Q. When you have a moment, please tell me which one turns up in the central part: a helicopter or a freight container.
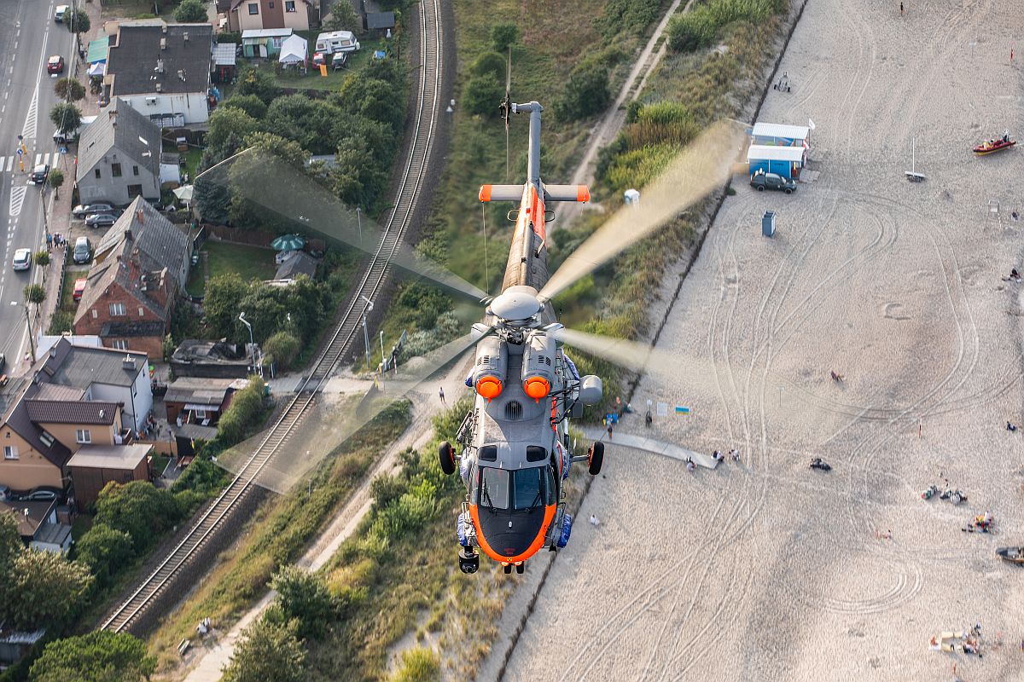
helicopter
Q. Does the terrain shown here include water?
No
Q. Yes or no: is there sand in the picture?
Yes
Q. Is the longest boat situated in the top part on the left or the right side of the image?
right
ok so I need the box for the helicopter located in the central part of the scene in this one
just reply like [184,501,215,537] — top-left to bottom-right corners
[216,44,834,573]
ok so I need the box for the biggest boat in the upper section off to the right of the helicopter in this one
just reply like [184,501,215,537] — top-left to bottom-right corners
[973,134,1019,155]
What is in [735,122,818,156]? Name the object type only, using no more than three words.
shed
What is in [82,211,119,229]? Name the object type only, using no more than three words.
car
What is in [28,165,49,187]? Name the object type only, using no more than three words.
car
